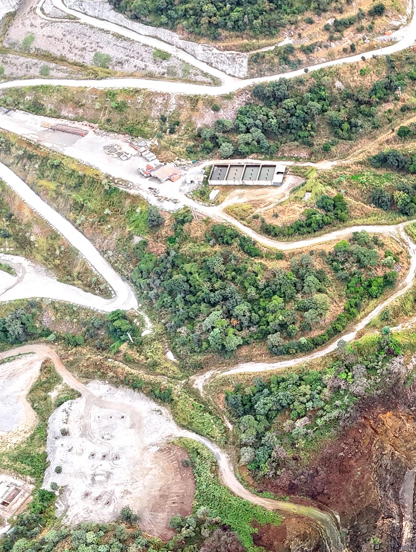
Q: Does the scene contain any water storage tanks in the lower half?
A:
No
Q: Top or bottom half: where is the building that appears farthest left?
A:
top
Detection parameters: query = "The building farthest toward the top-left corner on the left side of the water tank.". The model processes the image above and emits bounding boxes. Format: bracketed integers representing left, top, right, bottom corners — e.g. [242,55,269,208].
[151,163,180,186]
